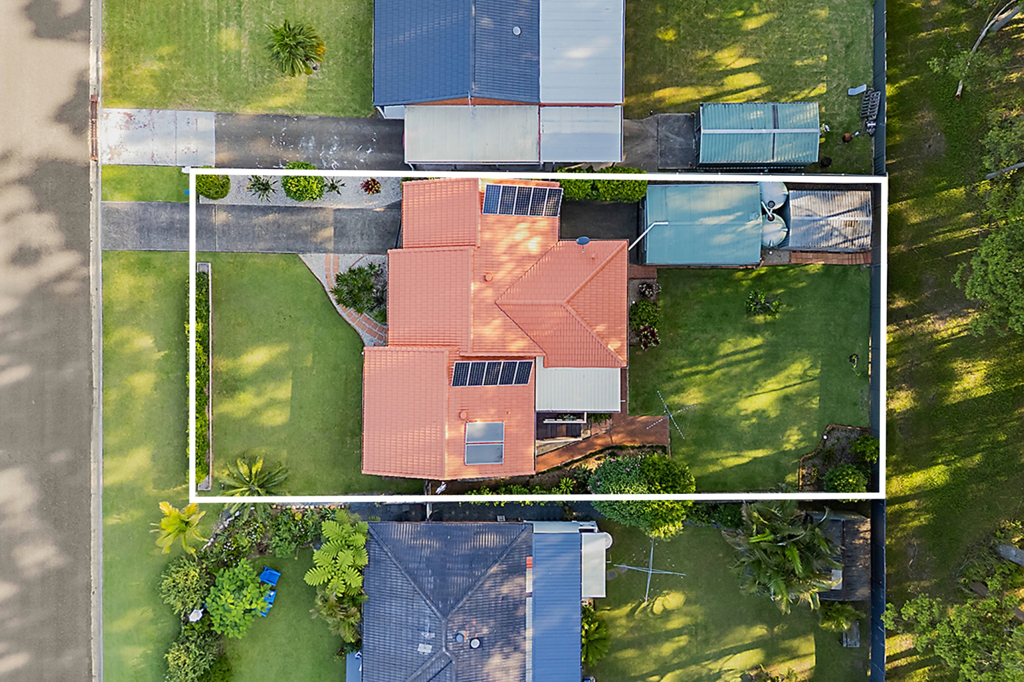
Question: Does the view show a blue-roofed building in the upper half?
Yes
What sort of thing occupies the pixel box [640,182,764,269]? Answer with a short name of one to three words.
shed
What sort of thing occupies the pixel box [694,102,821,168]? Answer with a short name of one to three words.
shed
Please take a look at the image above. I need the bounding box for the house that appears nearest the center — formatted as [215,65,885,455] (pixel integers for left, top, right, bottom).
[360,175,630,480]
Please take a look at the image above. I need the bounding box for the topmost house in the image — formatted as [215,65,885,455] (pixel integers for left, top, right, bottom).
[371,0,540,107]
